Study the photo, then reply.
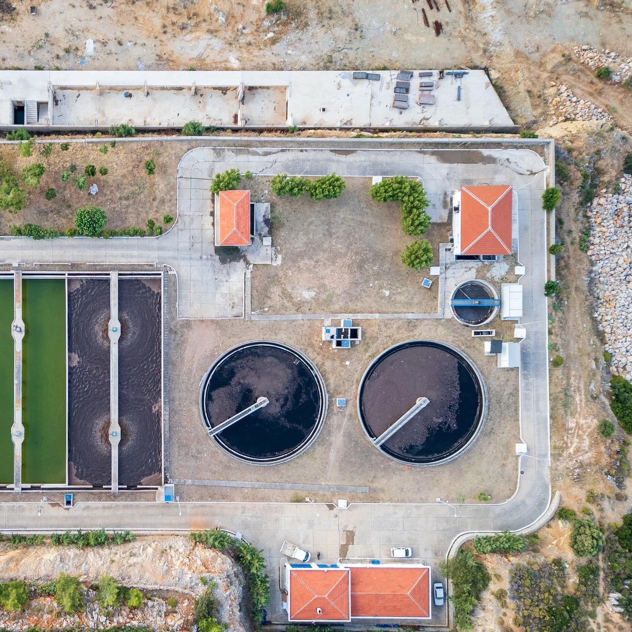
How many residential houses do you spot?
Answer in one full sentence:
The photo contains 3 residential houses.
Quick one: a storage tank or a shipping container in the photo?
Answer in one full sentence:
There is a storage tank in the scene.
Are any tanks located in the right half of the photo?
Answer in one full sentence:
Yes, a tank appears in the right half of the photo.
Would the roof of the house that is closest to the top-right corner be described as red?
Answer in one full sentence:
Yes, red is the color of the roof of the house that is closest to the top-right corner.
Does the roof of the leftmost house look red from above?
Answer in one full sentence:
Yes, the roof of the leftmost house appears red.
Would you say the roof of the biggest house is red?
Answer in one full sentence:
Yes, red is the color of the roof of the biggest house.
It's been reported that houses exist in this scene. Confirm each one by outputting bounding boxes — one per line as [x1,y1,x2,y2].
[286,564,432,624]
[449,185,513,262]
[214,190,259,249]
